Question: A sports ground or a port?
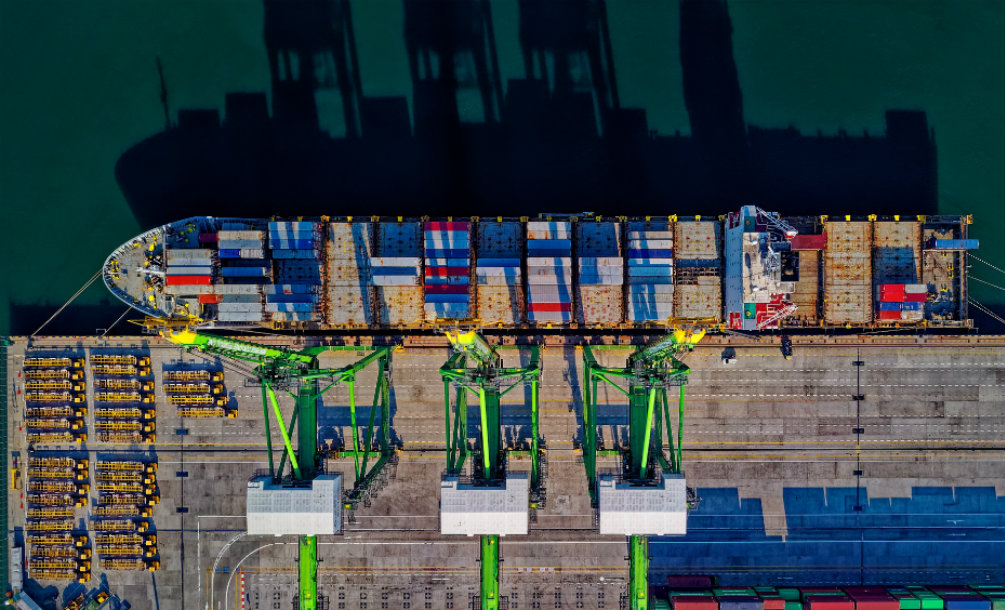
port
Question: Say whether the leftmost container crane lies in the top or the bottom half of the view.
bottom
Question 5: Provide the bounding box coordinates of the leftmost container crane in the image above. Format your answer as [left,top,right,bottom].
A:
[136,313,408,610]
